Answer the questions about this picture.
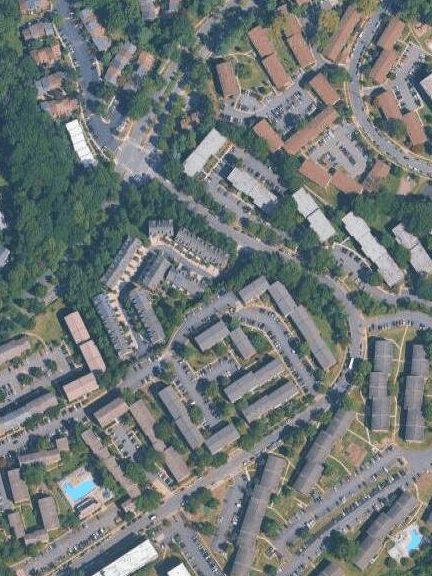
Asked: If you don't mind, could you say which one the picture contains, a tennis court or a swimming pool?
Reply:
swimming pool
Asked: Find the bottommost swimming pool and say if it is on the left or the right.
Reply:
right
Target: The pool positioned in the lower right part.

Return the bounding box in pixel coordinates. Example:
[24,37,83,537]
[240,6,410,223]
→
[388,525,424,565]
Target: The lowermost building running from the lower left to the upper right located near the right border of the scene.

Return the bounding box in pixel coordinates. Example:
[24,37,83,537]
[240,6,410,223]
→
[349,492,412,568]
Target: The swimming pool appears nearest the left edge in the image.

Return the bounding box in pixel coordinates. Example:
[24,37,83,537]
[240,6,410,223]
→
[57,470,105,515]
